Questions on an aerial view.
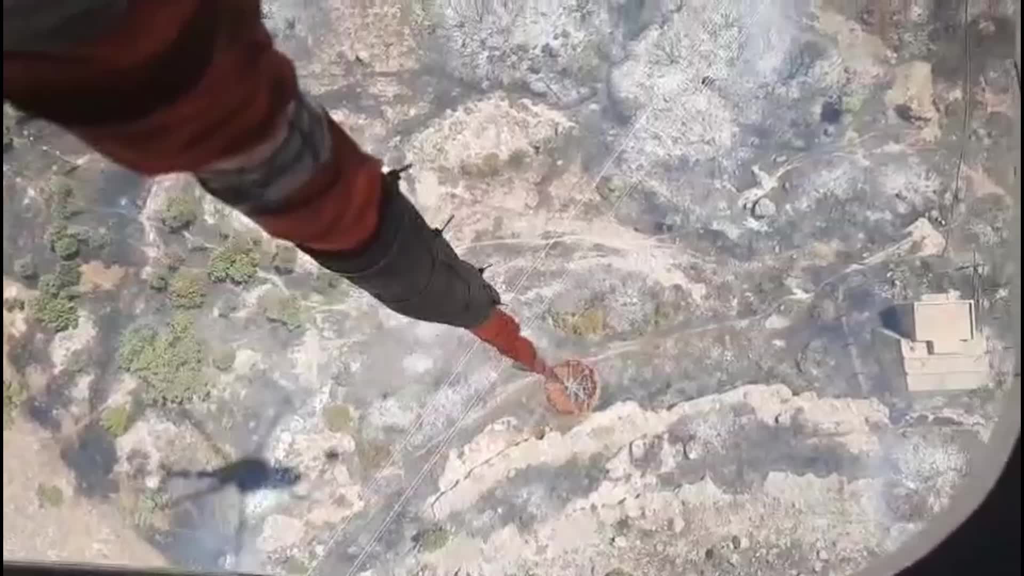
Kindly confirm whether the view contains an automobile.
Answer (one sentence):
No, the scene contains no automobile.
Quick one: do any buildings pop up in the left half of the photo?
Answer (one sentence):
No, looking in the left half of the photo, there is no building.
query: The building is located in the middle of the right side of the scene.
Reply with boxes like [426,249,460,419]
[895,290,991,391]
